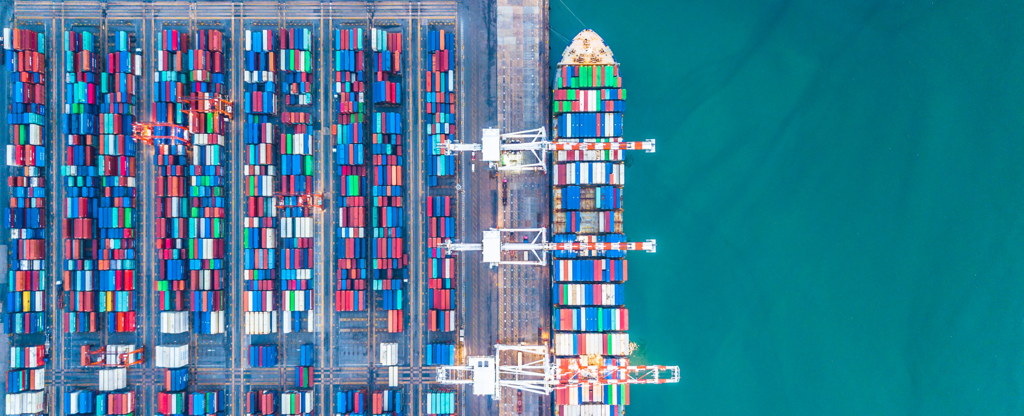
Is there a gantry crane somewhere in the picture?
Yes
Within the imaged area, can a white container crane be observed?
Yes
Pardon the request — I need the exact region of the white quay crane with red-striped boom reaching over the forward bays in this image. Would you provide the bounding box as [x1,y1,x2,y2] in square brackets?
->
[435,125,655,175]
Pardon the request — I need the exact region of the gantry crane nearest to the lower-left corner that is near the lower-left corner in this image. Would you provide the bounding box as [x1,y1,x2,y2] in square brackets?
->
[84,344,145,368]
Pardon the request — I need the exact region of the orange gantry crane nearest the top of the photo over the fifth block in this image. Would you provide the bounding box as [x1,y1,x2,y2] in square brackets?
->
[177,95,234,121]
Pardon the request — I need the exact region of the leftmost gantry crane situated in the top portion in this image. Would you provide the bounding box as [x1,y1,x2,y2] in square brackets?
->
[132,121,191,146]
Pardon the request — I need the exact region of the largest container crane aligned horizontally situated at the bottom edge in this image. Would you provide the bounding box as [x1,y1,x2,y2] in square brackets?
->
[433,338,679,407]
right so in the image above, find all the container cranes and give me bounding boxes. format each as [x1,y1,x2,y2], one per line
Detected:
[132,121,191,146]
[436,225,655,268]
[84,344,145,368]
[433,338,679,407]
[272,190,322,212]
[435,125,655,175]
[177,95,234,121]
